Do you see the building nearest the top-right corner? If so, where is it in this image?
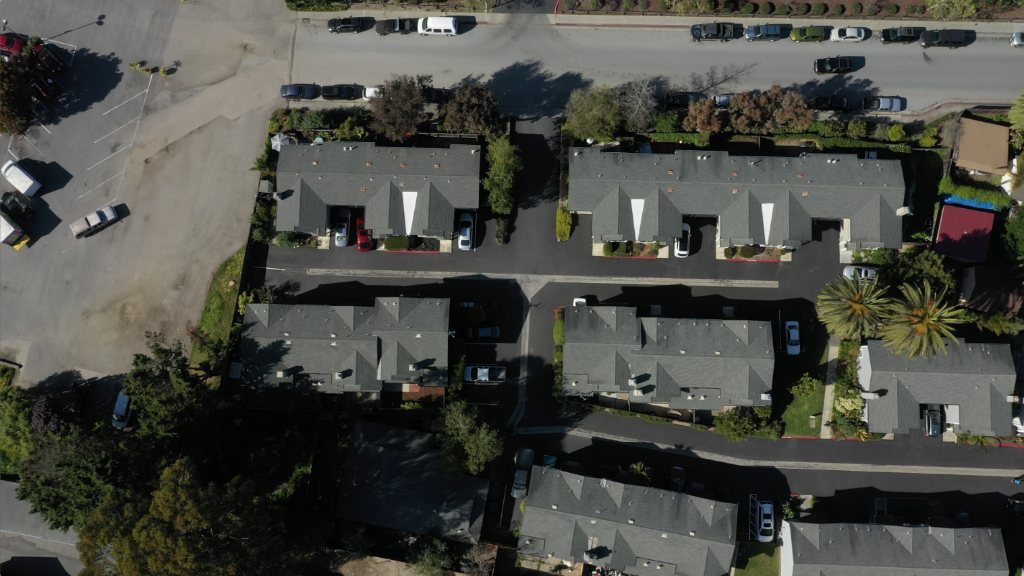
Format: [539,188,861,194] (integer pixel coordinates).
[938,116,1010,179]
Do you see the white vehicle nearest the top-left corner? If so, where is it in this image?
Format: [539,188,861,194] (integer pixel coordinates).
[0,155,41,195]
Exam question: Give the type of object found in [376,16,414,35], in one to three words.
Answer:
vehicle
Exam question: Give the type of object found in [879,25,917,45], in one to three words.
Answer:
car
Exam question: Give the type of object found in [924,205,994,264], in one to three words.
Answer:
shed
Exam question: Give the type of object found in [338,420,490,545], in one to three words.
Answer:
house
